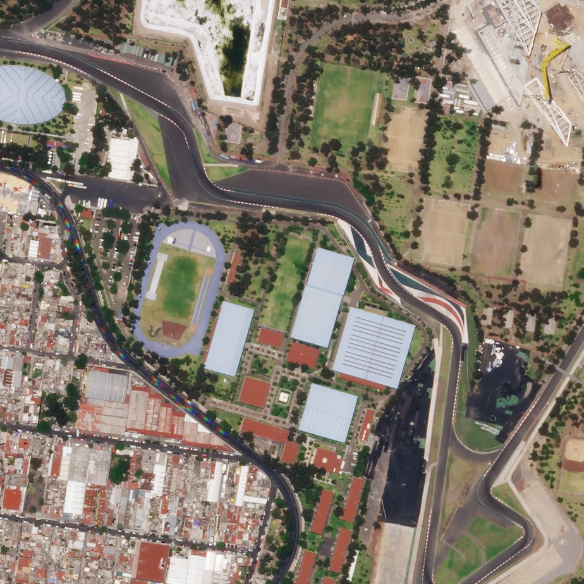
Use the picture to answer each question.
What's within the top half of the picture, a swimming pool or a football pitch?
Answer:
football pitch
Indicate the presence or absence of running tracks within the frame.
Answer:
Yes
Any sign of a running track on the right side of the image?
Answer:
No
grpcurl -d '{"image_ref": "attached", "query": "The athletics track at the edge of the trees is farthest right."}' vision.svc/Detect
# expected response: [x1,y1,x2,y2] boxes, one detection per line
[134,220,225,359]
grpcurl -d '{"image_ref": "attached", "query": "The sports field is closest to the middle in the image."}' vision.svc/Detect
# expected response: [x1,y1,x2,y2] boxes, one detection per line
[259,233,312,332]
